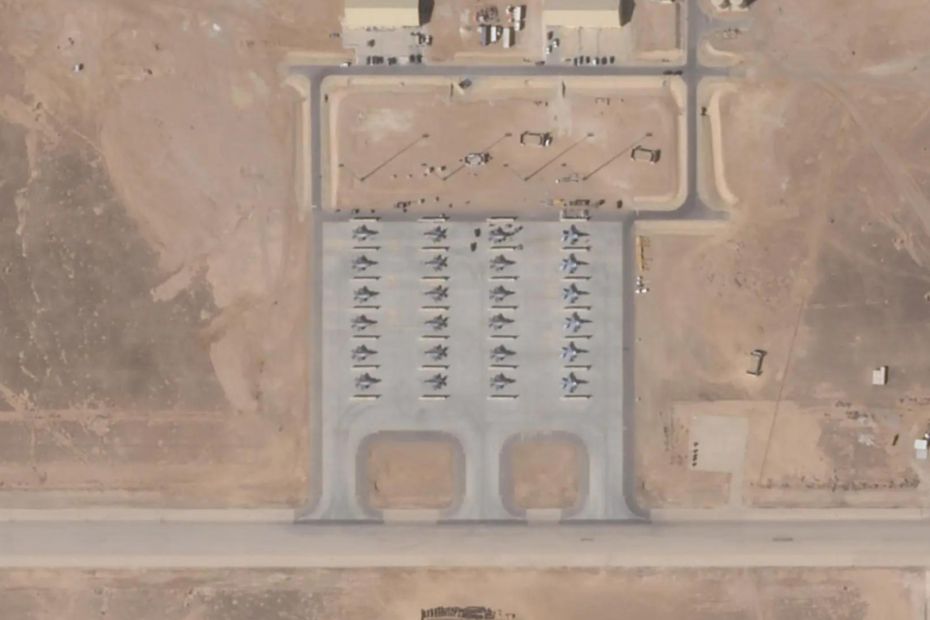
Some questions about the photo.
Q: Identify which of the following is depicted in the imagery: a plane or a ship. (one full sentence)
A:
I can see a plane in this picture.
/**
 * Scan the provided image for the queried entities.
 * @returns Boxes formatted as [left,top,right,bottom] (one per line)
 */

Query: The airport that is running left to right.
[0,221,930,567]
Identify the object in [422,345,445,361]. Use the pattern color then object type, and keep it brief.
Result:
gray airplane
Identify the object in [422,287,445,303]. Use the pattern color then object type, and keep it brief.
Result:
gray airplane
